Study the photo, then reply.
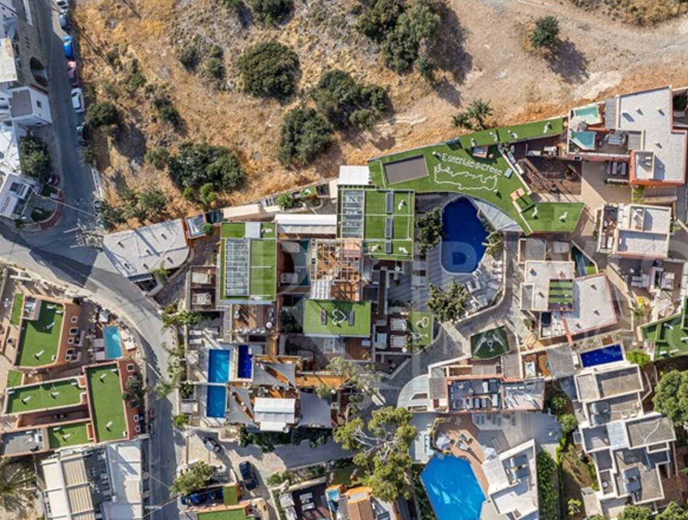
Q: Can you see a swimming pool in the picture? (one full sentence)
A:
Yes, this view includes a swimming pool.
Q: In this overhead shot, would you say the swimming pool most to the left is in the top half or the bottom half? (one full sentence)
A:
Seen from above, the swimming pool most to the left lies in the bottom half of the view.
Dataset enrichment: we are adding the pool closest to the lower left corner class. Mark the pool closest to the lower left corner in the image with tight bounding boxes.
[102,324,124,361]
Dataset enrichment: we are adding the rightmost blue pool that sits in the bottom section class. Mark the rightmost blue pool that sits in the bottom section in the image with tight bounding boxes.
[578,340,628,369]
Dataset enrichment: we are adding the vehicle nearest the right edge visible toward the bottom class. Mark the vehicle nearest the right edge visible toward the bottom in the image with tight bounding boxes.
[239,460,257,491]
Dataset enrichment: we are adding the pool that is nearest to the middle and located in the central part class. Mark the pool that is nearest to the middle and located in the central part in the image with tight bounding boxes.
[290,239,311,289]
